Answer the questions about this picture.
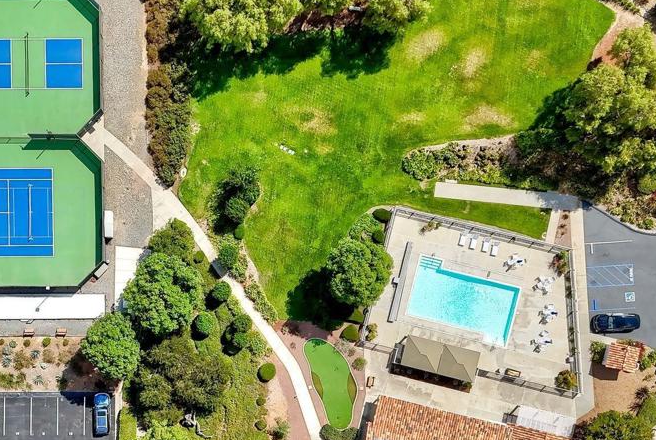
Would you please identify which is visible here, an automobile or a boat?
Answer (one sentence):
Of the two, only an automobile appears.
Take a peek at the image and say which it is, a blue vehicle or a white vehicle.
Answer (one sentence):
It is a blue vehicle that can be seen here.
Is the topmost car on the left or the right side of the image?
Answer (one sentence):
It is on the right.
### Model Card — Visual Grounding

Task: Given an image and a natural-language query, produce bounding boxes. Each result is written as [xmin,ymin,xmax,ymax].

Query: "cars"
[93,394,112,436]
[589,313,637,333]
